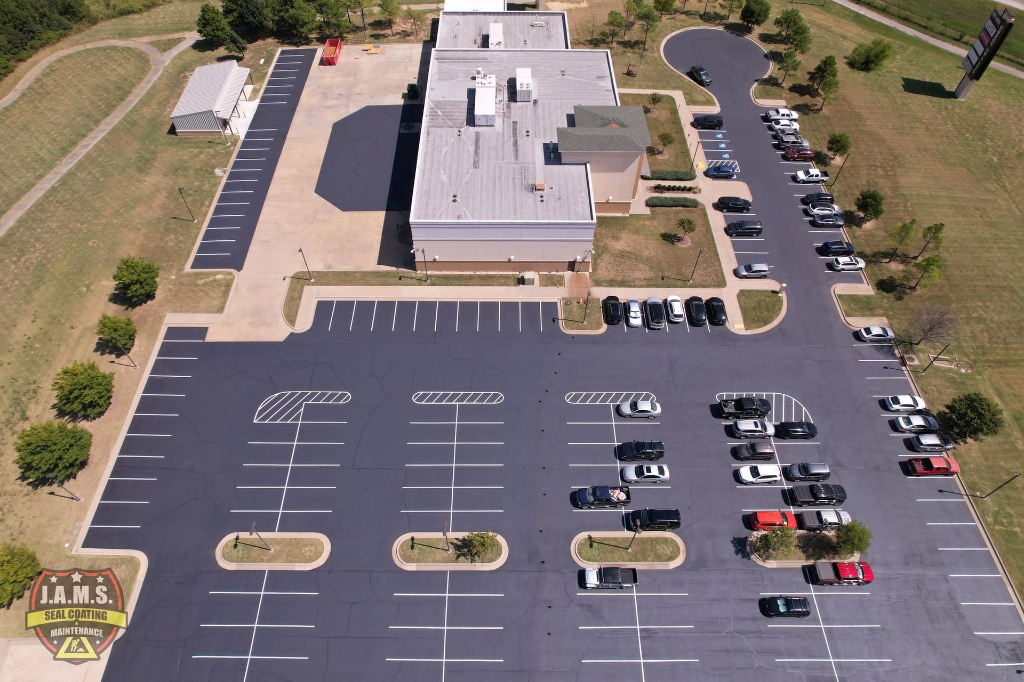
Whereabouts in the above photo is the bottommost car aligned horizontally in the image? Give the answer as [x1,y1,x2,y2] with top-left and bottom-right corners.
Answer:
[759,594,811,619]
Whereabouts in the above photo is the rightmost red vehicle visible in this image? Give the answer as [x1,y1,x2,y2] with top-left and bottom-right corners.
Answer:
[904,456,958,477]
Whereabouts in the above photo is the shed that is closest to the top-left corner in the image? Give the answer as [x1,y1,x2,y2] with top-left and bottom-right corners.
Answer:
[172,58,254,135]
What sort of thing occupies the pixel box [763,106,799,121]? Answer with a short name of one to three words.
vehicle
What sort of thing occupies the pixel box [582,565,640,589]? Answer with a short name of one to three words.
truck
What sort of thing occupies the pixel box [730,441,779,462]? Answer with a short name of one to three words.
car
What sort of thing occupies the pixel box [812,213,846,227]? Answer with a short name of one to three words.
car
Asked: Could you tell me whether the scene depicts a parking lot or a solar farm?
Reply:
parking lot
